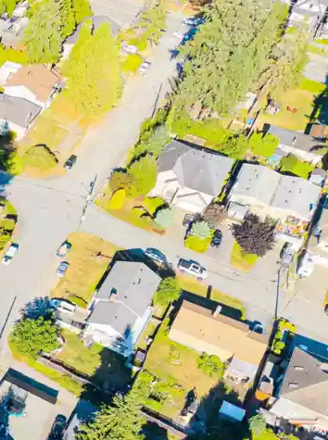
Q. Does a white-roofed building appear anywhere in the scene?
Yes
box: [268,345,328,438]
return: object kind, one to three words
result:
house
